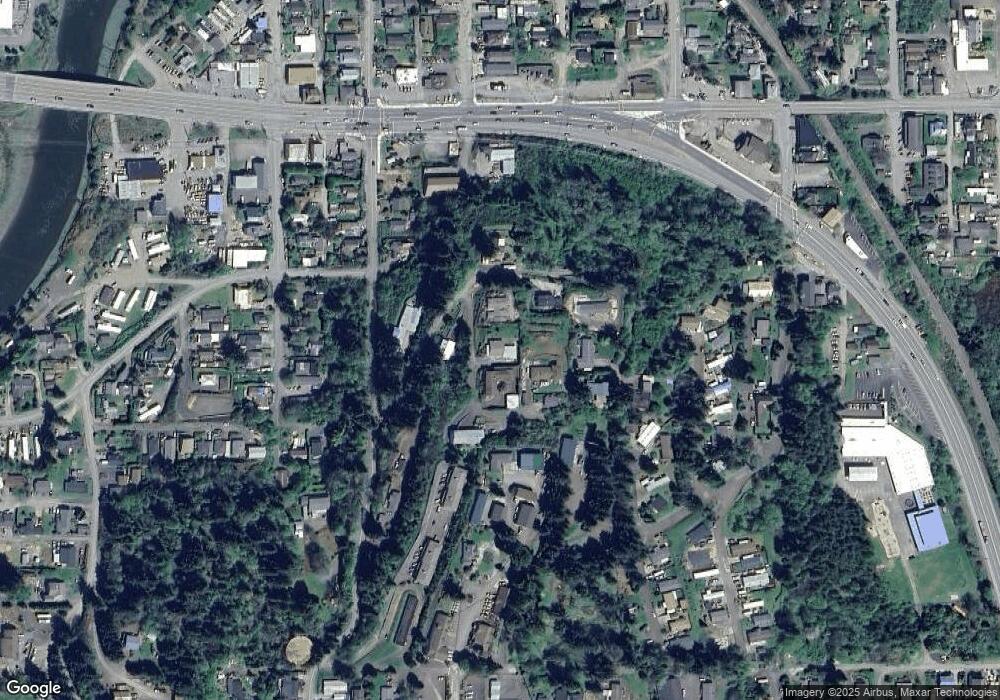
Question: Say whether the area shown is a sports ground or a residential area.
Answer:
residential area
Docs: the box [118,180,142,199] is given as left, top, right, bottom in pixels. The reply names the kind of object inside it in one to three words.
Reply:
building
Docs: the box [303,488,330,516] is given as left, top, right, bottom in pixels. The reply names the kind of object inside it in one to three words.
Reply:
house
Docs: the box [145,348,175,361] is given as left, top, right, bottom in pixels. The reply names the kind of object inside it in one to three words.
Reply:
house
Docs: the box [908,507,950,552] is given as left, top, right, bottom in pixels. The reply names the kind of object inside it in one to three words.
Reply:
building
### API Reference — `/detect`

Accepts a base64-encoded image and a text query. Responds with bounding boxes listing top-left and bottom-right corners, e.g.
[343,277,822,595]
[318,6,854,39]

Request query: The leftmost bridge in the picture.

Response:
[0,71,161,120]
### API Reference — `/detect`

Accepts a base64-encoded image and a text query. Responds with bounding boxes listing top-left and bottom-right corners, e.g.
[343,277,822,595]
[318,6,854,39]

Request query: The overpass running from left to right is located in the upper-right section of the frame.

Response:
[790,100,838,113]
